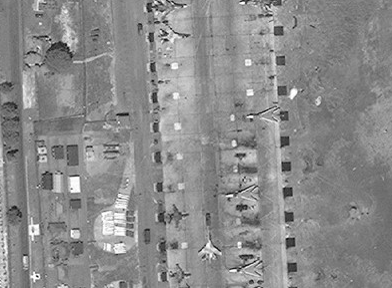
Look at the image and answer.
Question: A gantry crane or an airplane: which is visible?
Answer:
airplane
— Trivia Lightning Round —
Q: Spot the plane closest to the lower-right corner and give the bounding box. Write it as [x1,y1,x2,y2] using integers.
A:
[229,261,263,277]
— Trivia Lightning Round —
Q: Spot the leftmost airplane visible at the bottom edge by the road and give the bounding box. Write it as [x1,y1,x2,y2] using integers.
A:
[169,264,193,285]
